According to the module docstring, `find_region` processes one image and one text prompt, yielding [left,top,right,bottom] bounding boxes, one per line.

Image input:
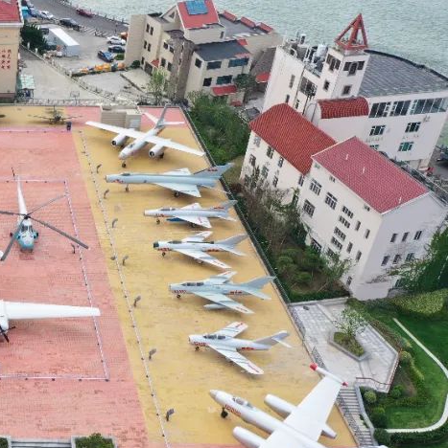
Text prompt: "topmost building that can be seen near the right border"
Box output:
[303,11,448,170]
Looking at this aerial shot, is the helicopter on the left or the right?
left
